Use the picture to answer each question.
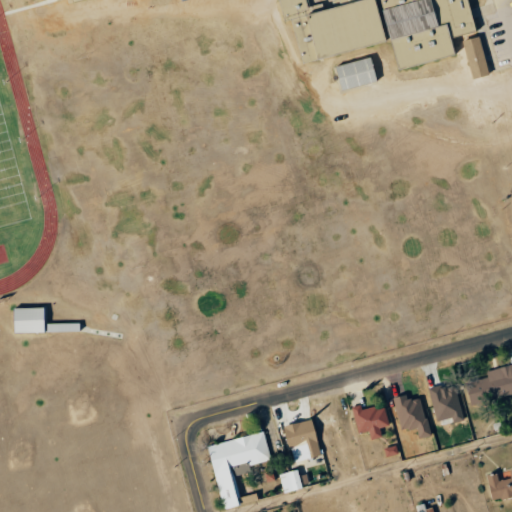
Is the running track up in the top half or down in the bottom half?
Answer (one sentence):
The top half of the photo is where the running track is.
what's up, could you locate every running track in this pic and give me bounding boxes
[0,8,58,294]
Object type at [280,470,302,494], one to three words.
shed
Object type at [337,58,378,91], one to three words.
shed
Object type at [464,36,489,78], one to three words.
building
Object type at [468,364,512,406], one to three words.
house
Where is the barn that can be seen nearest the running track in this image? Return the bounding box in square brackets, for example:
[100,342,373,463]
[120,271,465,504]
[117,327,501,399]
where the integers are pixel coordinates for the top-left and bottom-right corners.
[14,307,46,334]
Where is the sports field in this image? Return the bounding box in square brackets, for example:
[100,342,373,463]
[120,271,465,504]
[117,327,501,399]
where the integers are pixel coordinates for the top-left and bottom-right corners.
[0,50,44,280]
